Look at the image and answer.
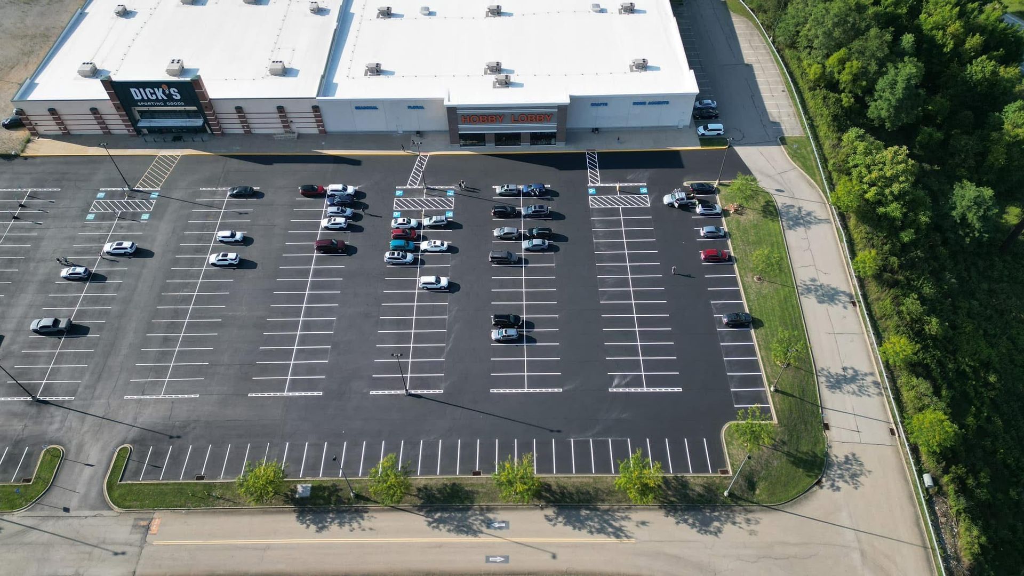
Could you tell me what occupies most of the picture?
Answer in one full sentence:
The bulk of the photo consists of paved ground.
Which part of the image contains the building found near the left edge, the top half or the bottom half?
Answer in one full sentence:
The building found near the left edge sits in the top half of the picture.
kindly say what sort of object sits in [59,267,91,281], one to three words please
car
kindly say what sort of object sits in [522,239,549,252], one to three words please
vehicle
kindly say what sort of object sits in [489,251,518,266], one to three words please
car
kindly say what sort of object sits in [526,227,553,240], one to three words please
vehicle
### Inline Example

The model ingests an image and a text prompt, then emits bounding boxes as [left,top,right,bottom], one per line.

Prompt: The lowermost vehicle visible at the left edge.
[30,319,73,334]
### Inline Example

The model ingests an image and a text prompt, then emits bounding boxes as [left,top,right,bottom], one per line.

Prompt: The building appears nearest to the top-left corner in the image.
[11,0,347,137]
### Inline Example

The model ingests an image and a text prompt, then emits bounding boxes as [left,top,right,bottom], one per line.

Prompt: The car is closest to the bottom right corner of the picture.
[721,313,752,327]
